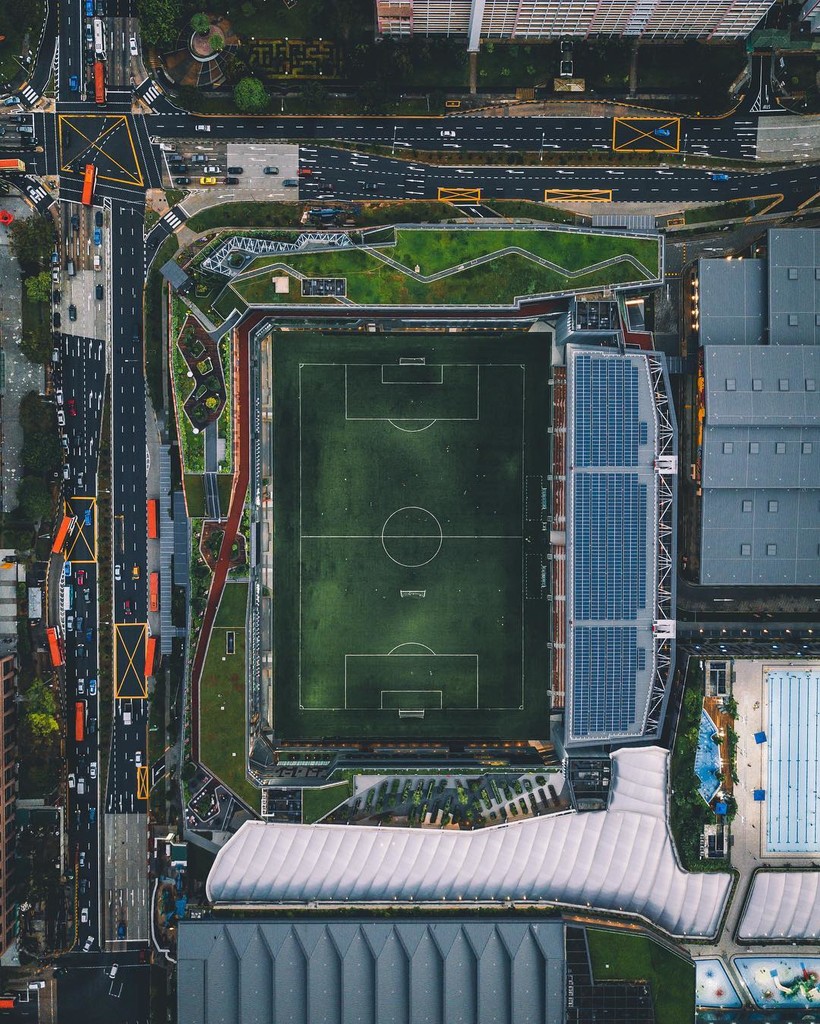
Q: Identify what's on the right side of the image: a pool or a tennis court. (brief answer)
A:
pool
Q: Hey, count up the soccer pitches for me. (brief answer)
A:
1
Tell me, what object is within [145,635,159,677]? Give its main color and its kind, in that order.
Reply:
red vehicle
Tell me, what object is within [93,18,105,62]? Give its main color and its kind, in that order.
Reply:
white vehicle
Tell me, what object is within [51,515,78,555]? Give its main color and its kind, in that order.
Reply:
orange bus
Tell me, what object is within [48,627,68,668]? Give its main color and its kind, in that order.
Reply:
red bus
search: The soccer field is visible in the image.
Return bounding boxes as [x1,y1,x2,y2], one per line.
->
[273,333,551,740]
